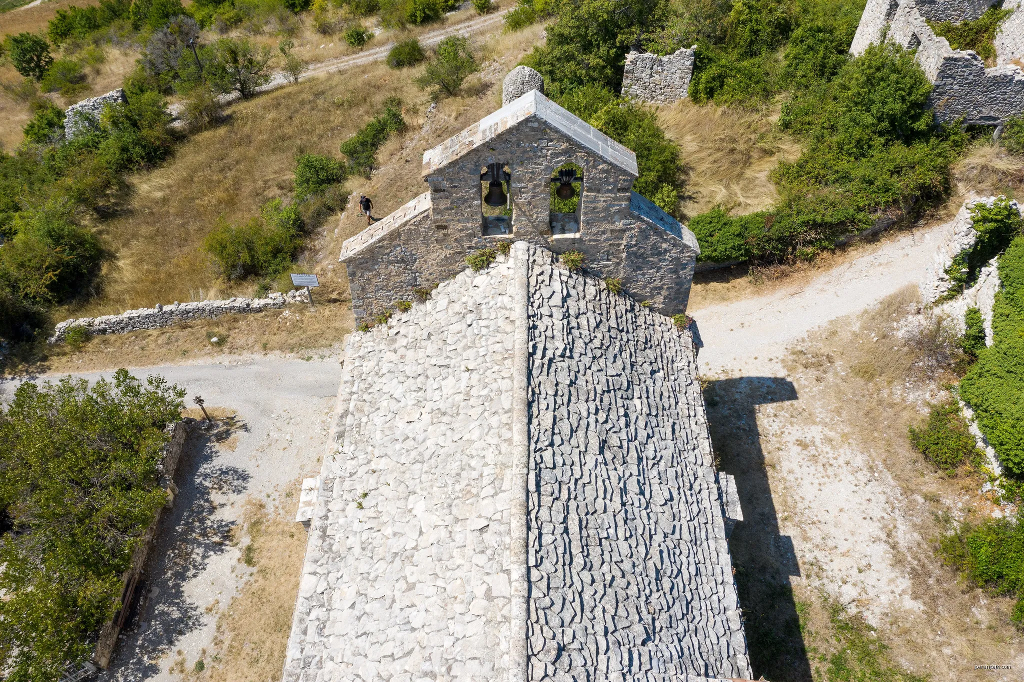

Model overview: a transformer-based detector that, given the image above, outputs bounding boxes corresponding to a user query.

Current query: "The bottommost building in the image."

[283,93,762,682]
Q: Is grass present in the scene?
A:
Yes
